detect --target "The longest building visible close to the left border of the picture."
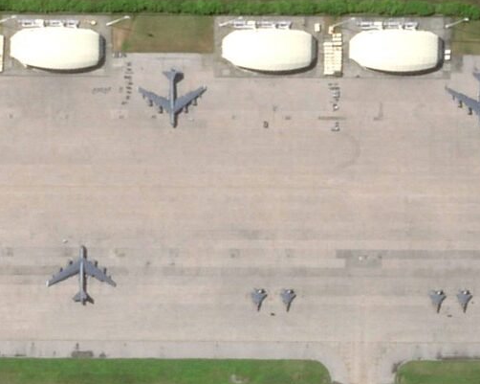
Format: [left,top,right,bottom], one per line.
[10,26,100,72]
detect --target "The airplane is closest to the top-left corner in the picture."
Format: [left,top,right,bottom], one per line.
[139,66,207,127]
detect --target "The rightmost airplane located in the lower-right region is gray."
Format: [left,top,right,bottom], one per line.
[457,290,473,311]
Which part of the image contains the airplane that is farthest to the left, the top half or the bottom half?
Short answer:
bottom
